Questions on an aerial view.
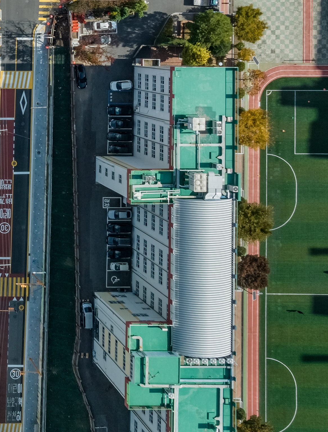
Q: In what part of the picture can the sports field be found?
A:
right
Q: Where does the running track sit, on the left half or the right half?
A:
right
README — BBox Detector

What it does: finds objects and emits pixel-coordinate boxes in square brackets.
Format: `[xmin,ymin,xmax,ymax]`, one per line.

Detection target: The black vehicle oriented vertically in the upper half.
[75,63,87,89]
